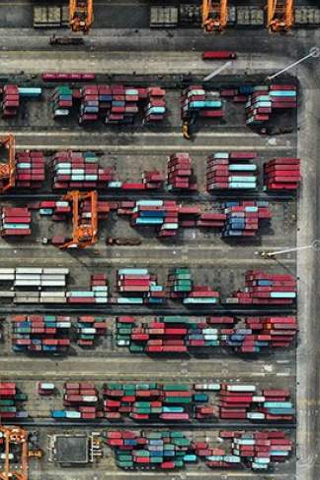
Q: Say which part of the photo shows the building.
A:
bottom left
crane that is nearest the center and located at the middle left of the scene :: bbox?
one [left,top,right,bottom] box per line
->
[54,191,97,249]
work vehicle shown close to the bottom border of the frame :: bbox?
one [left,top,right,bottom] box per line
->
[28,449,42,462]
